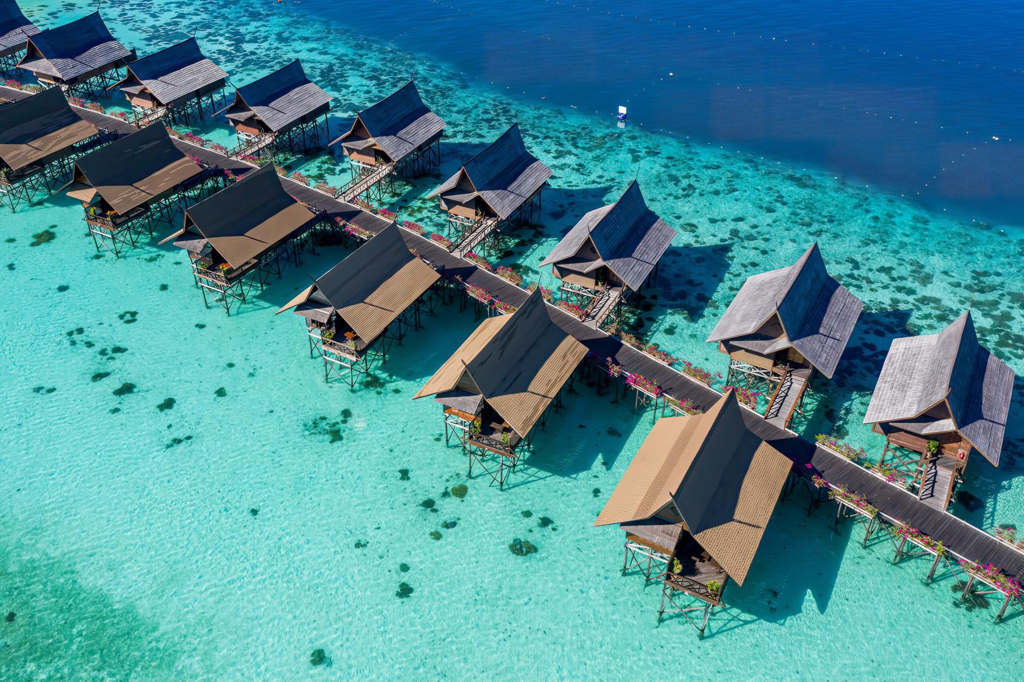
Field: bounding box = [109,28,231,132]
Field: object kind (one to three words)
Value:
house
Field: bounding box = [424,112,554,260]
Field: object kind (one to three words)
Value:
house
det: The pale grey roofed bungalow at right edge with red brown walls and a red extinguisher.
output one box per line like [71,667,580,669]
[859,293,1017,512]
